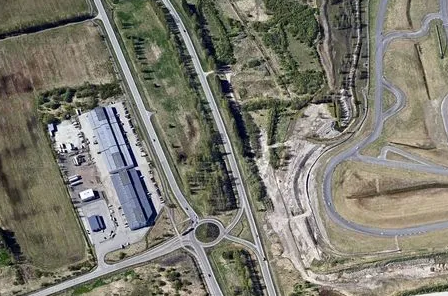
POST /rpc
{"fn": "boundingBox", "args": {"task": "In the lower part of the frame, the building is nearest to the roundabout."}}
[109,167,156,229]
